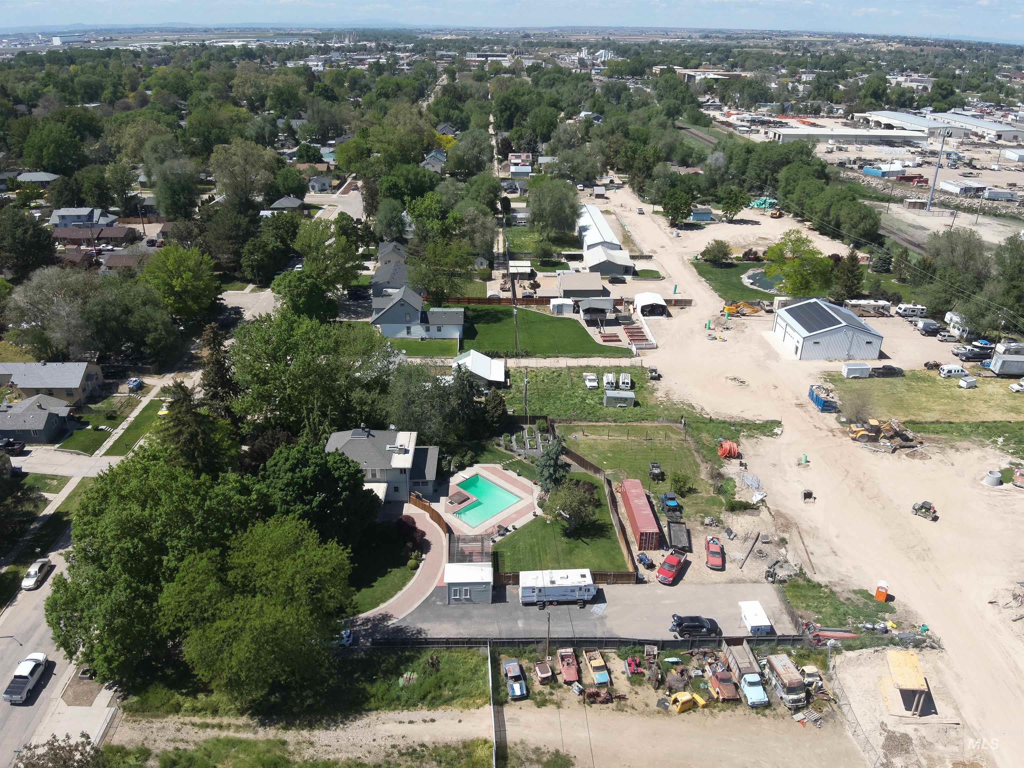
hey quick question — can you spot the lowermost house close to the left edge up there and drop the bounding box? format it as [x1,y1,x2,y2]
[0,401,91,443]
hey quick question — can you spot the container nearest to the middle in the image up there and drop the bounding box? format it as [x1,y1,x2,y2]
[620,479,659,547]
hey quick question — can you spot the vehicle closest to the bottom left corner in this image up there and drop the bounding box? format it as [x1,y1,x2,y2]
[1,653,51,705]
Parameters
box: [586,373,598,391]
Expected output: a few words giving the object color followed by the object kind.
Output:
white vehicle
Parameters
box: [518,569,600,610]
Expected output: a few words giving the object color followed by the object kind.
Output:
white trailer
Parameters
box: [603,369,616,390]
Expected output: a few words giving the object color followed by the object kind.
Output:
white vehicle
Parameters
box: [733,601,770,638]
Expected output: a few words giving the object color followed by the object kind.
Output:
white trailer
